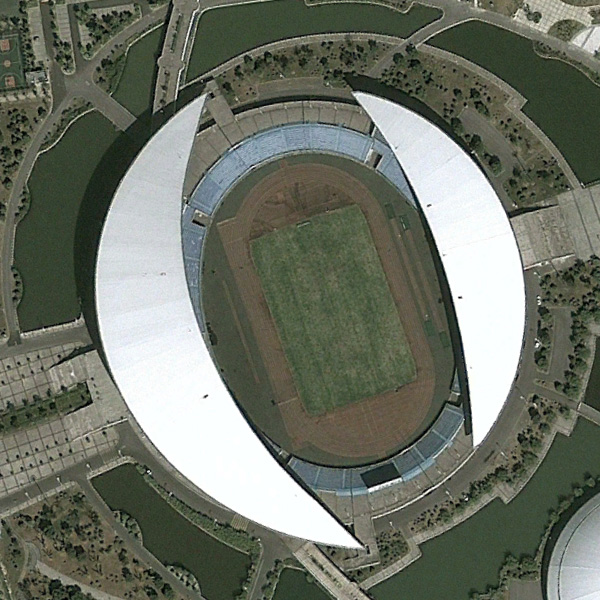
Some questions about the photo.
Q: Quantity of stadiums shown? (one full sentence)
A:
In total, there is 1 stadium in the scene.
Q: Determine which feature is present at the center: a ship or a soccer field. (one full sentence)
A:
There is a soccer field at the center.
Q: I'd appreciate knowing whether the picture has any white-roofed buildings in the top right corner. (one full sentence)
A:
Yes, in the top right corner there is a white-roofed building.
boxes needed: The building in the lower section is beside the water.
[547,493,600,600]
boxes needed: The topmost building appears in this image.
[569,22,600,57]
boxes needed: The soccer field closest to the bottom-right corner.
[249,204,416,415]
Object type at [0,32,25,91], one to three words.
basketball court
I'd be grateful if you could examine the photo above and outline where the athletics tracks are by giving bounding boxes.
[203,152,456,467]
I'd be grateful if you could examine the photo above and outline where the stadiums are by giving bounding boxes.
[49,80,574,572]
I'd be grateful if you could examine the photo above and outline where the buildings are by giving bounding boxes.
[26,71,50,84]
[547,493,600,600]
[569,22,600,57]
